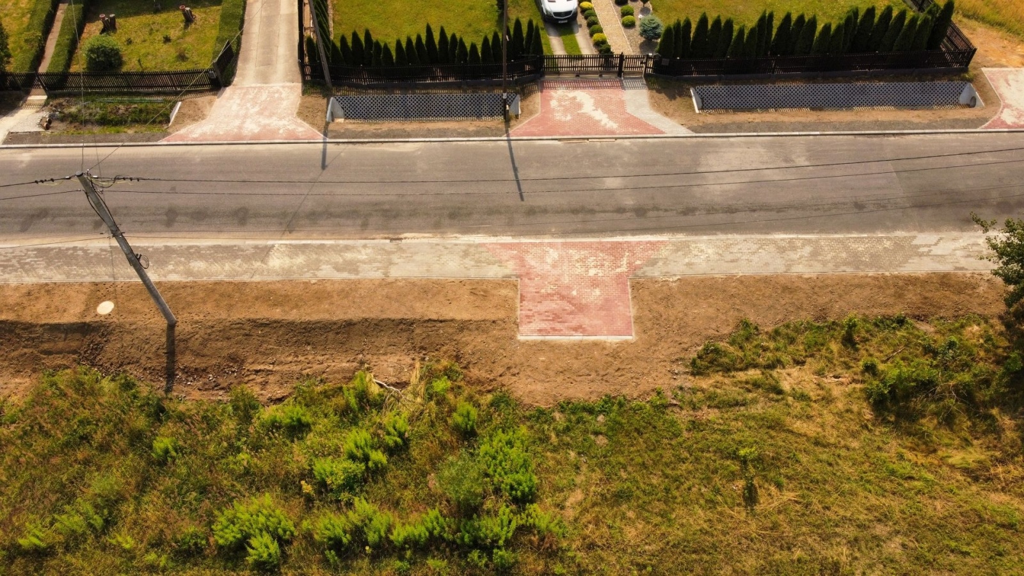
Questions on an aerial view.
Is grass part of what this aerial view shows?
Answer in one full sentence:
Yes, some grass is visible.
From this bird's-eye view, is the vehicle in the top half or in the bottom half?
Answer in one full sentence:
The top half of the photo is where the vehicle is.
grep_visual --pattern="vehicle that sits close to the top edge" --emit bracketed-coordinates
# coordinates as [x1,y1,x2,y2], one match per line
[537,0,577,25]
